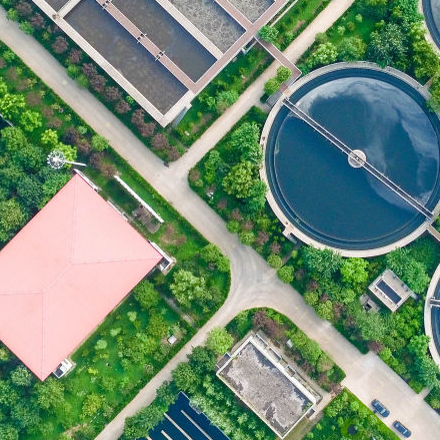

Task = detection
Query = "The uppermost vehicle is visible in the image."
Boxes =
[369,397,390,419]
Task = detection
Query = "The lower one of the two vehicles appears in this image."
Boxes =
[390,418,413,439]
